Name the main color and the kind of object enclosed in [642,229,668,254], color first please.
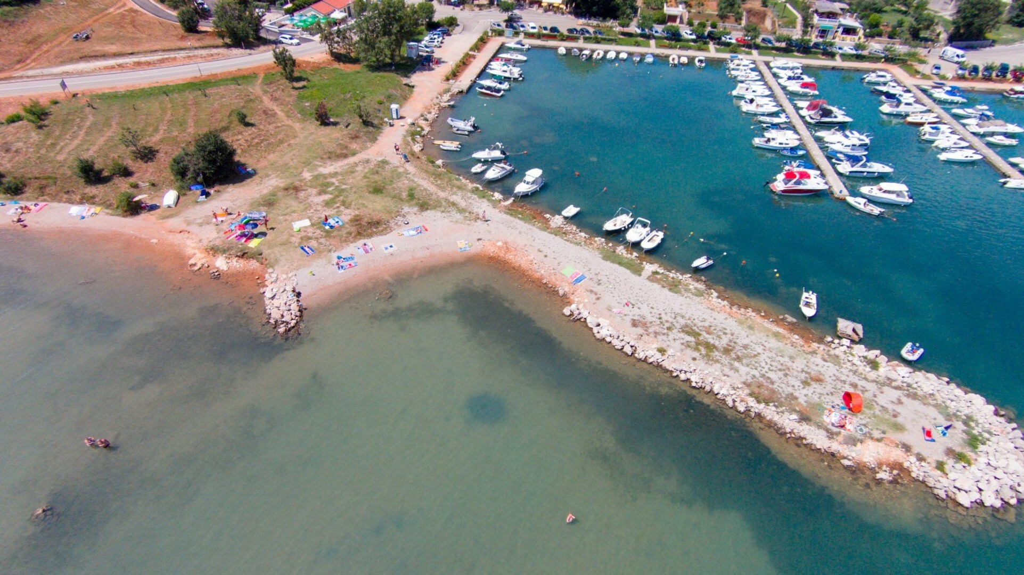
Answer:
white boat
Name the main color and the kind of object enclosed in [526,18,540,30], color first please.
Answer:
white vehicle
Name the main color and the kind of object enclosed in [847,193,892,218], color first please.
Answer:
white boat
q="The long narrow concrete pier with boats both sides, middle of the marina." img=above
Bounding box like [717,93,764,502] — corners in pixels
[757,62,849,203]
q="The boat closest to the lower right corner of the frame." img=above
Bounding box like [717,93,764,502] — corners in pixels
[901,342,926,360]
